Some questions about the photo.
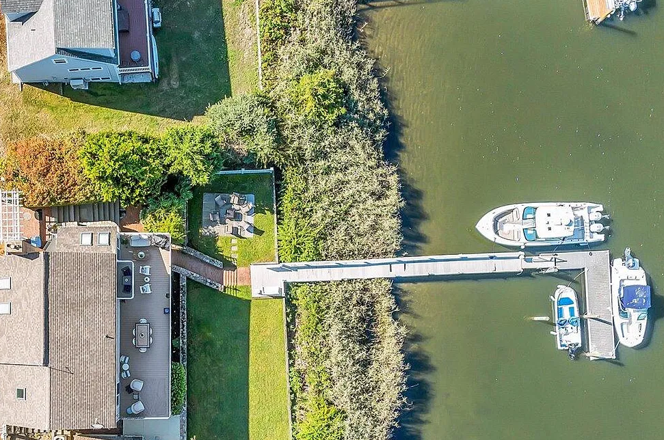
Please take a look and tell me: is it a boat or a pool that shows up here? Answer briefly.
boat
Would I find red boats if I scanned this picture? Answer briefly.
No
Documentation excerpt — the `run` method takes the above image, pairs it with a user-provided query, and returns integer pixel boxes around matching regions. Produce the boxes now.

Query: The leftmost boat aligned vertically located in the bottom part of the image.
[548,287,581,360]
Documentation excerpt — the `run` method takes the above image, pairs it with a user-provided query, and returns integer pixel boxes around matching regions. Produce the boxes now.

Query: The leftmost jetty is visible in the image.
[249,249,536,297]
